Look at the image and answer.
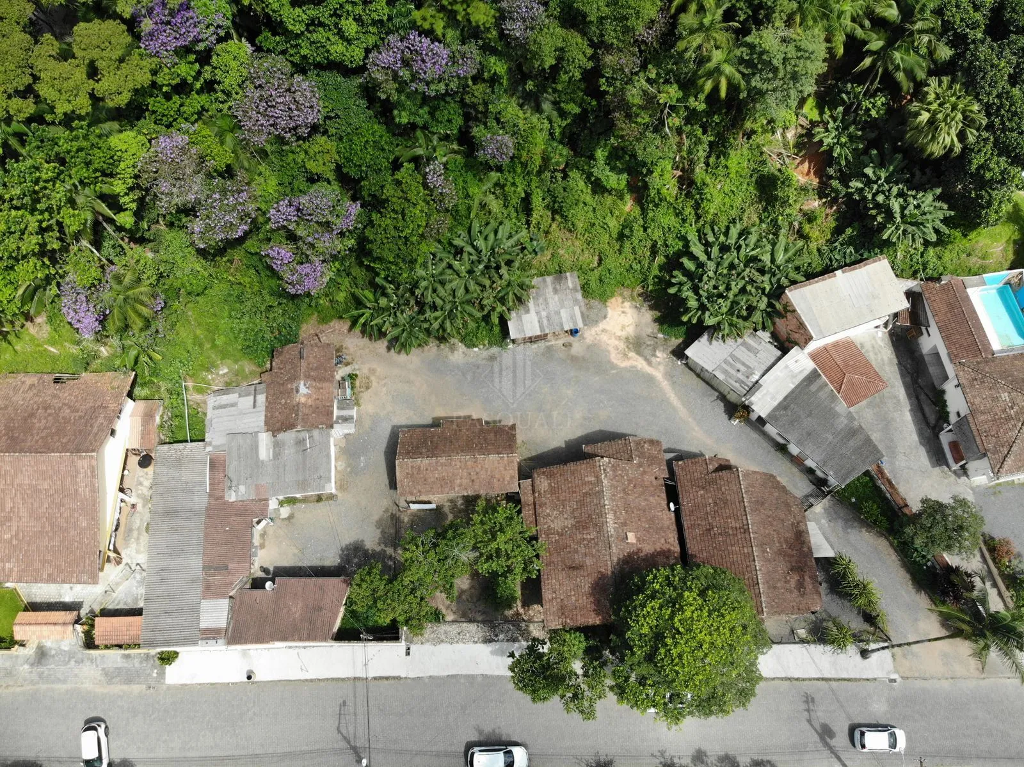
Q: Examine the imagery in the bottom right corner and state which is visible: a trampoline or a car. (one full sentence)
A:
You can see a car in the bottom right corner.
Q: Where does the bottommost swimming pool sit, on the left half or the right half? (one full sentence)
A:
You can find the bottommost swimming pool on the right side of the picture.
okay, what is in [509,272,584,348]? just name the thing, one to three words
shed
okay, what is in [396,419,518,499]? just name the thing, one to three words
house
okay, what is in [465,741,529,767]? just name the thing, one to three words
car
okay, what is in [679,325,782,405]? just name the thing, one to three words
shed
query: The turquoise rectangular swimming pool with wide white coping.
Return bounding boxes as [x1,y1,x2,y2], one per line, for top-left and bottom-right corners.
[966,281,1024,357]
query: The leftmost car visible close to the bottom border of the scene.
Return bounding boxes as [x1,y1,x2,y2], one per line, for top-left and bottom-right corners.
[80,720,116,767]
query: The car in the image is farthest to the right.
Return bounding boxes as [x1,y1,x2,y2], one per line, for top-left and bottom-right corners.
[851,725,907,757]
